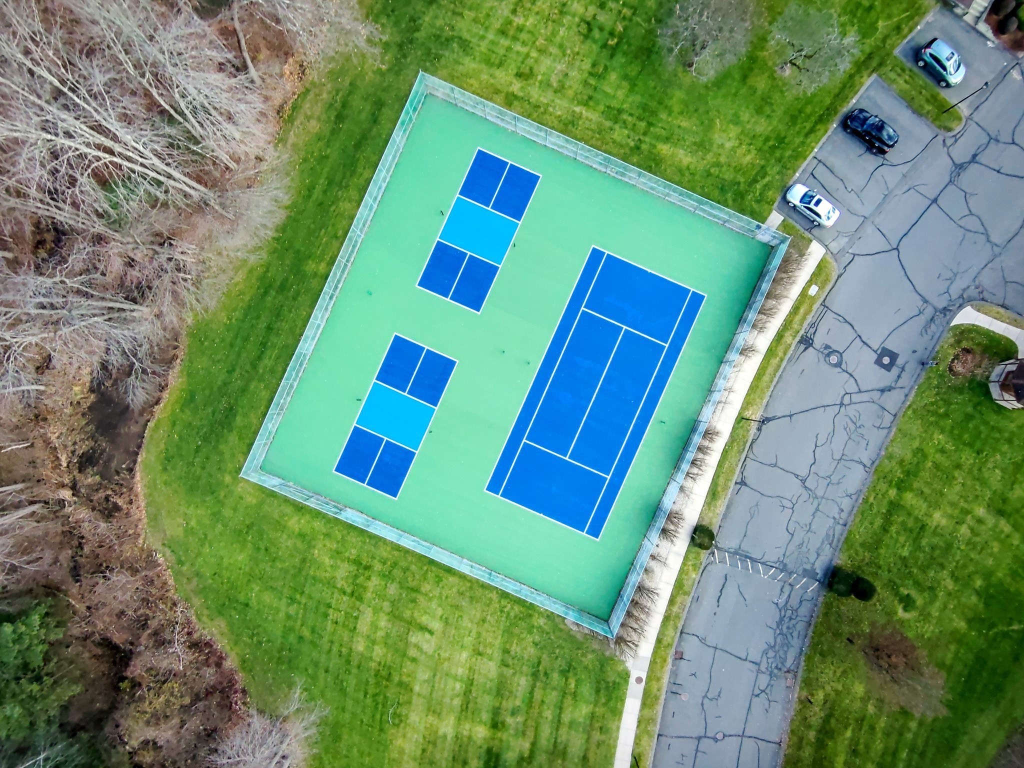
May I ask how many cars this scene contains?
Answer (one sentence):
I count 3 cars.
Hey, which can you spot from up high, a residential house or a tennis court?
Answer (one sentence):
Of the two, only a tennis court appears.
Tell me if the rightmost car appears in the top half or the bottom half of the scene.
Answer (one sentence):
You can find the rightmost car in the top half.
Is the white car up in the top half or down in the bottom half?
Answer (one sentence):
The white car is in the top half of the image.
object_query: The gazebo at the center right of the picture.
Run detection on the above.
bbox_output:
[989,359,1024,408]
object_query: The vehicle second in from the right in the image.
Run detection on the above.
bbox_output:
[843,106,901,154]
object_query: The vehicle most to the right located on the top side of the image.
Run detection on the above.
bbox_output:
[921,41,965,85]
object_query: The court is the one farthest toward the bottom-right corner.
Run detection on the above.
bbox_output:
[485,246,706,540]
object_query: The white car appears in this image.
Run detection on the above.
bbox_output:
[786,183,840,227]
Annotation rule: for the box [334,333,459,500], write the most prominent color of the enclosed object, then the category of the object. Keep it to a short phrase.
blue sports court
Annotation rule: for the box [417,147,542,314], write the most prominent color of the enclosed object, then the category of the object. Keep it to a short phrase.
blue sports court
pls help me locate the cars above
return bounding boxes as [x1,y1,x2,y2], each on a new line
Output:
[843,106,901,154]
[786,183,840,227]
[921,41,965,85]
